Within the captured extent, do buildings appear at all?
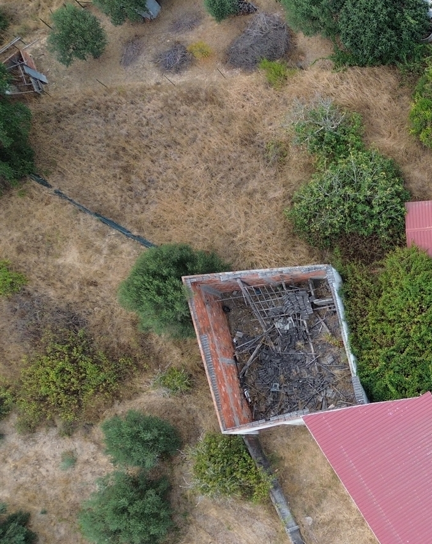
Yes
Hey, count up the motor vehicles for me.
zero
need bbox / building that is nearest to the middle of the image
[183,266,377,434]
